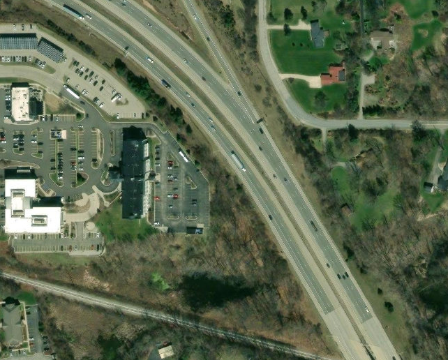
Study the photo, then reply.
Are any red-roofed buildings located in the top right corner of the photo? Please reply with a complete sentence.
Yes, there is a red-roofed building in the top right corner of the photo.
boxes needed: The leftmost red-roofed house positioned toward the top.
[320,65,346,85]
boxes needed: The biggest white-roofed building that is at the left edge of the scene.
[4,179,64,232]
